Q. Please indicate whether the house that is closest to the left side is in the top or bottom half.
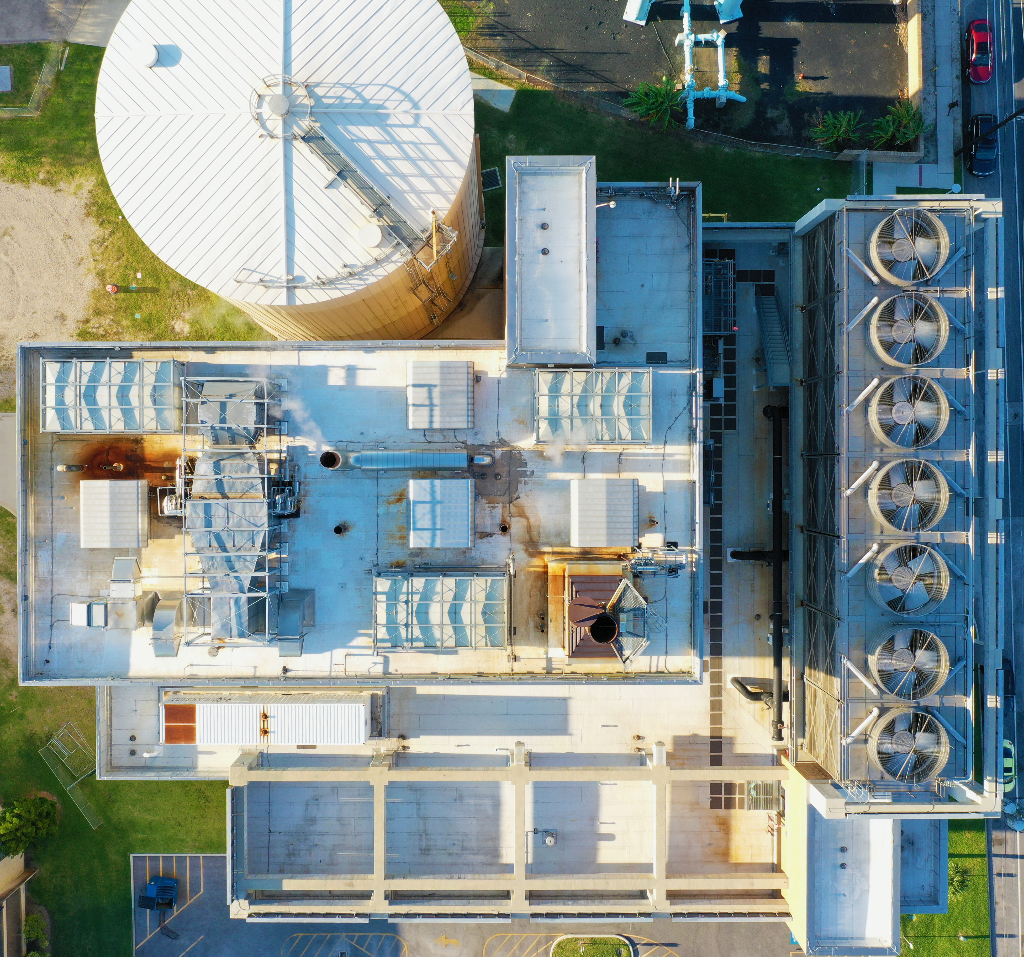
bottom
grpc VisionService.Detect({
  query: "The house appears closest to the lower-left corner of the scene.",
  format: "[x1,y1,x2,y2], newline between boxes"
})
[0,853,39,905]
